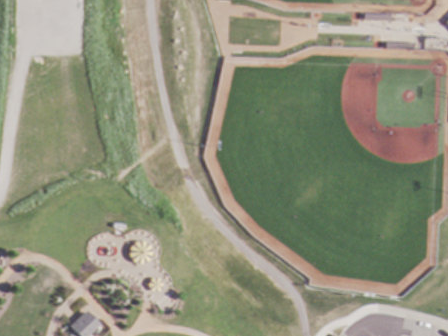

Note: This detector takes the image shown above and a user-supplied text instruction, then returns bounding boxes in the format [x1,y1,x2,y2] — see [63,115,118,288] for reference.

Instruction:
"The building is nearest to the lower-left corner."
[70,312,96,336]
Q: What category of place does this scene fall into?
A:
sports ground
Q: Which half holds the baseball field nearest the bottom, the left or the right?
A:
right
